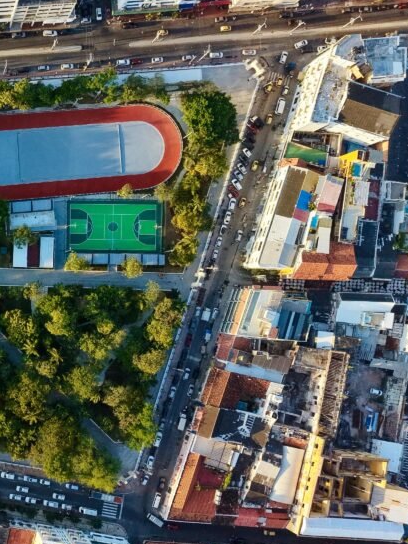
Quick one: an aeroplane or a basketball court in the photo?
basketball court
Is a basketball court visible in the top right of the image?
No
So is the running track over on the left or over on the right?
left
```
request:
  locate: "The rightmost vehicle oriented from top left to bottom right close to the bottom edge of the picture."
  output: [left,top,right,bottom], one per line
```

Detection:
[146,513,162,526]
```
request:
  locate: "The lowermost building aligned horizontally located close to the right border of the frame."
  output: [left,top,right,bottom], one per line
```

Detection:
[299,514,404,542]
